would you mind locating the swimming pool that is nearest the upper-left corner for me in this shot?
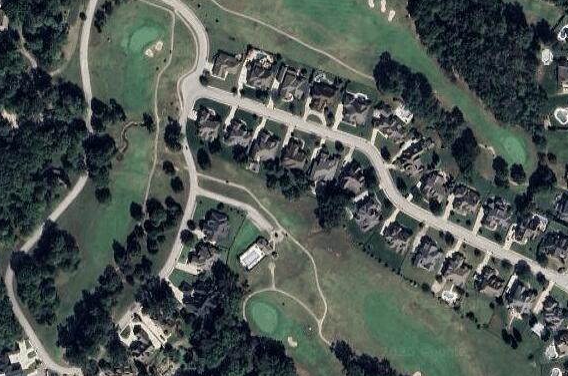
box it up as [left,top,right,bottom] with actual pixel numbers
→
[248,50,275,64]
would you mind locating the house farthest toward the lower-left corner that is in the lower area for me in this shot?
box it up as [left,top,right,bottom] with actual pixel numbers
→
[0,352,23,375]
